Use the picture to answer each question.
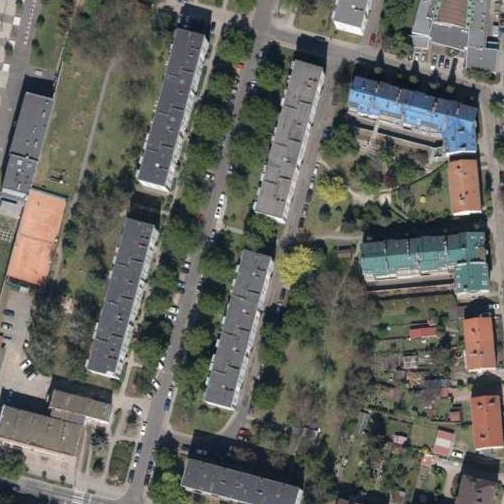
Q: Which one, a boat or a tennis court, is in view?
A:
tennis court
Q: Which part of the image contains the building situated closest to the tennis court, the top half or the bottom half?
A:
top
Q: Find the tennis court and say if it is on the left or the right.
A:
left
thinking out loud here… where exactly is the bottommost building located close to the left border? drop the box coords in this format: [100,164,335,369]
[0,390,115,457]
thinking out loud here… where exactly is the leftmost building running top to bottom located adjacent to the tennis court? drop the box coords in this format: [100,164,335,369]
[0,91,58,216]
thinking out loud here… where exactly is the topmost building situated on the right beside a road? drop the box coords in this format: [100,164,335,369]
[334,0,372,36]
